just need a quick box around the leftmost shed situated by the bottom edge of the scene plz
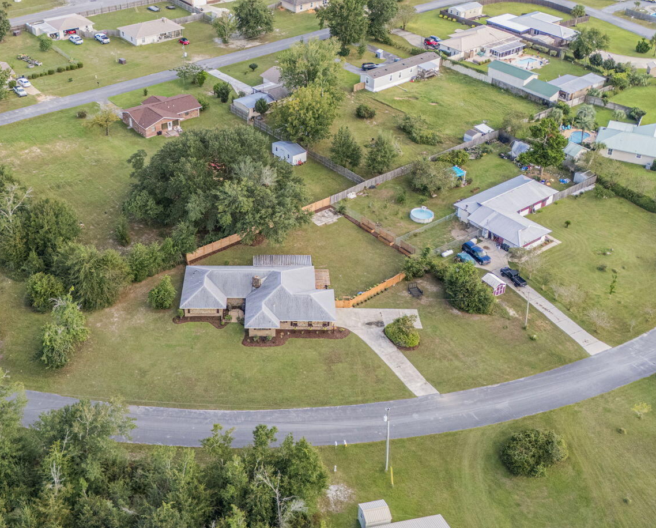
[355,497,392,528]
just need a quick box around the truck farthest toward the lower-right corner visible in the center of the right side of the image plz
[496,263,531,288]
